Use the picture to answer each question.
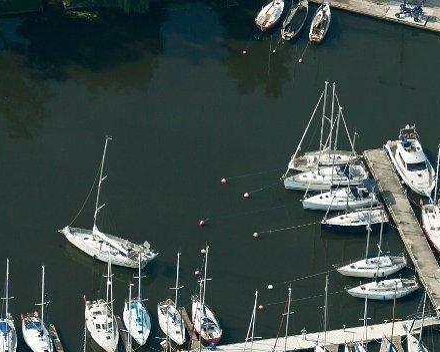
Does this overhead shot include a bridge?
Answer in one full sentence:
No, there isn't any bridge down there.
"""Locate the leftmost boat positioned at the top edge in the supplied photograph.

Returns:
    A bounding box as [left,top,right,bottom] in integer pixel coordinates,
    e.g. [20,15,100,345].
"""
[252,0,285,34]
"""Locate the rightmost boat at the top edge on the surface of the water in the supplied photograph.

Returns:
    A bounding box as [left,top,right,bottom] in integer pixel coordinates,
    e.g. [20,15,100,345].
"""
[309,0,330,46]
